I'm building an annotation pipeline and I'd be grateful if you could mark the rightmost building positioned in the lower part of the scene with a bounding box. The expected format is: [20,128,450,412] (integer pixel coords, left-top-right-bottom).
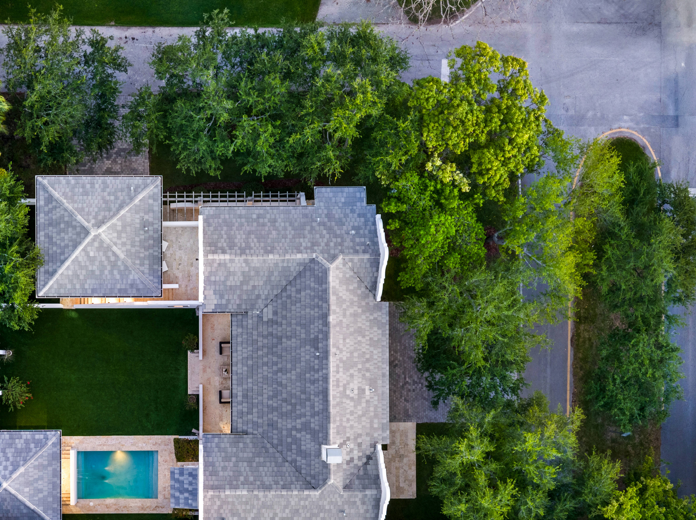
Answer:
[198,185,391,520]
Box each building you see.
[36,175,161,296]
[198,185,391,520]
[0,430,61,520]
